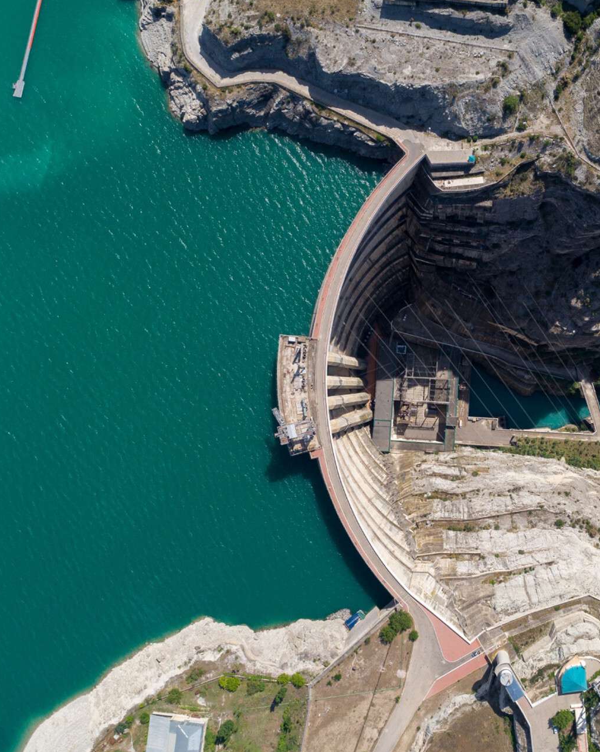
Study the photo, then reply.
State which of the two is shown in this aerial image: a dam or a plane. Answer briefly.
dam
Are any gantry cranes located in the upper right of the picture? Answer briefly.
No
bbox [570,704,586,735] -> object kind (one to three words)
house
